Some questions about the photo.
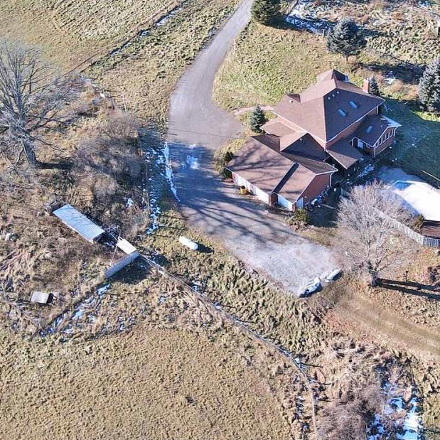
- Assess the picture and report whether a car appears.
No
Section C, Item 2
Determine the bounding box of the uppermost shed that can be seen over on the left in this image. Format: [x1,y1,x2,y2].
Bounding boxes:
[52,202,106,246]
